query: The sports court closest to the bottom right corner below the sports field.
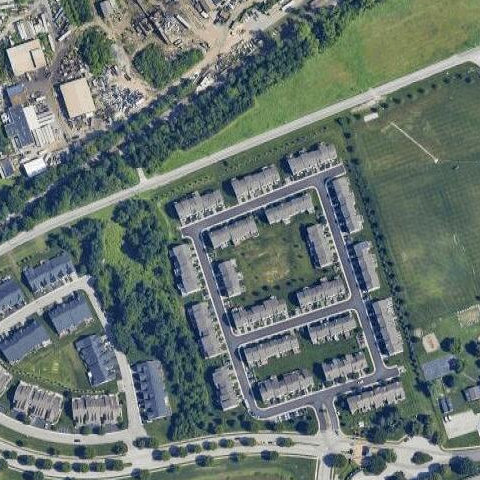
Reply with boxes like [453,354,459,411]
[422,354,455,381]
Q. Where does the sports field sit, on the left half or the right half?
right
